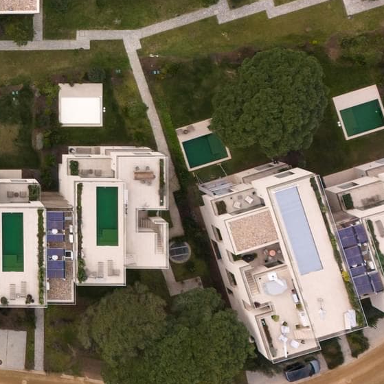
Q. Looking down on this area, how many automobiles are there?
1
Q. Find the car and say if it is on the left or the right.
right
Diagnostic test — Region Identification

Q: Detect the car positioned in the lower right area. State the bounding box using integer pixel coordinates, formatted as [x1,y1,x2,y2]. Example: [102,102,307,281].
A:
[282,359,322,381]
